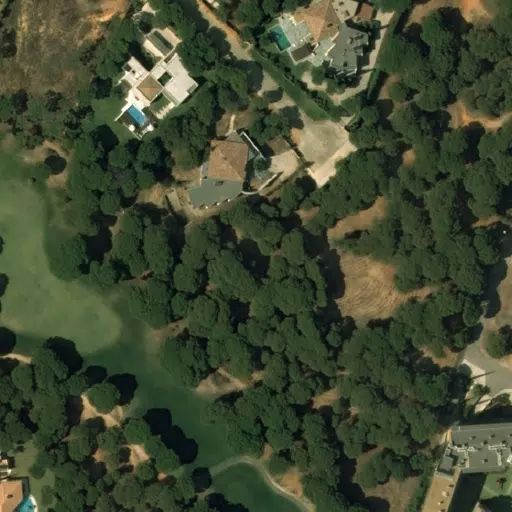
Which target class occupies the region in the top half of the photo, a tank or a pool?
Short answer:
pool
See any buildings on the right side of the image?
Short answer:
Yes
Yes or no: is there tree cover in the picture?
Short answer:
Yes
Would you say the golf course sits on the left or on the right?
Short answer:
left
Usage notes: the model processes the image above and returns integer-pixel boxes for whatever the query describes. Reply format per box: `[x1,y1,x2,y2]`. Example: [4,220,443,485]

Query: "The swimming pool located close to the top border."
[268,24,290,51]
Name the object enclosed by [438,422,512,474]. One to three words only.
building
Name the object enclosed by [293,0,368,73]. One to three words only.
house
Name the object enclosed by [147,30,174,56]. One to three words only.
building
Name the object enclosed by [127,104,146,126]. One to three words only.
swimming pool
